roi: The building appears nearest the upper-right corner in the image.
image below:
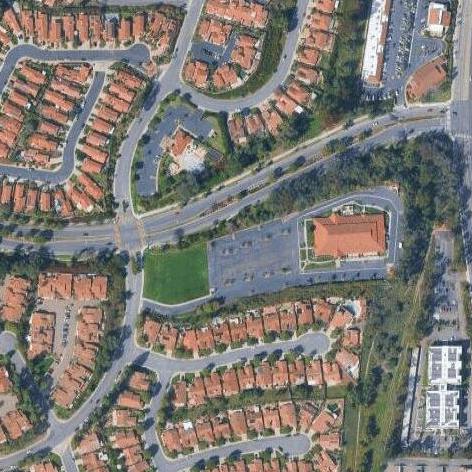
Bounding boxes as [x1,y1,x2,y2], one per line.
[430,3,451,30]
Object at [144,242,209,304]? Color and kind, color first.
green sports field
